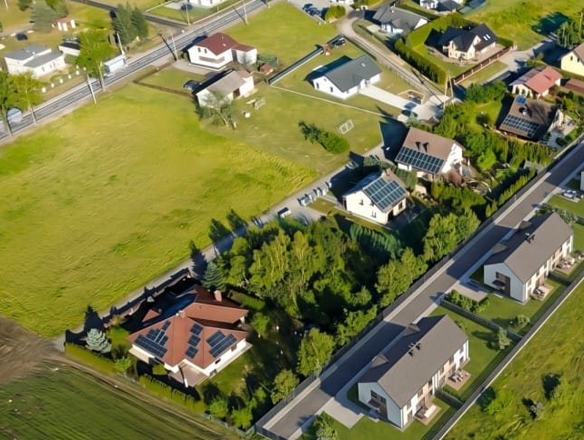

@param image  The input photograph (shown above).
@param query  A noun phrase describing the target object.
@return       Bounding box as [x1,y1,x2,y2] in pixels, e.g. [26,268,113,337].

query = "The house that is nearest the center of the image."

[340,165,407,223]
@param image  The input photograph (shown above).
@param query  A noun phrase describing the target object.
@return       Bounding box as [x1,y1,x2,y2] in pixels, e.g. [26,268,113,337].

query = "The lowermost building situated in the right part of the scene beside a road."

[353,312,471,428]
